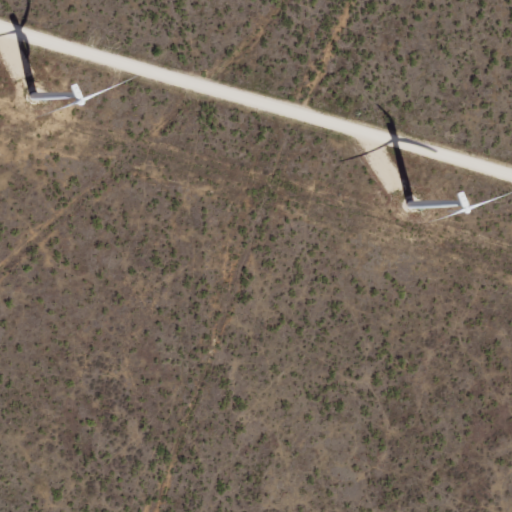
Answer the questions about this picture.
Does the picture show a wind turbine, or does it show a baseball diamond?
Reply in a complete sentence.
Looking from above, you can make out a wind turbine.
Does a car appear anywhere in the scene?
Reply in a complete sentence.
No, this view has no car in it.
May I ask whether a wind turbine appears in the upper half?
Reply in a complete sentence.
Yes, in the upper half there is a wind turbine.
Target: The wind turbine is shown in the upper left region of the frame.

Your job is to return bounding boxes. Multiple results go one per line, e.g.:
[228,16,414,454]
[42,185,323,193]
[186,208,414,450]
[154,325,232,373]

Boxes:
[26,76,136,118]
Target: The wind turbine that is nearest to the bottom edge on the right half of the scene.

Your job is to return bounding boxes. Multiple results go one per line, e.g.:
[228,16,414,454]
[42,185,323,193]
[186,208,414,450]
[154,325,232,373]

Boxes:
[405,192,512,224]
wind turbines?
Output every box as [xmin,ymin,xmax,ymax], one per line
[26,76,136,118]
[405,192,512,224]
